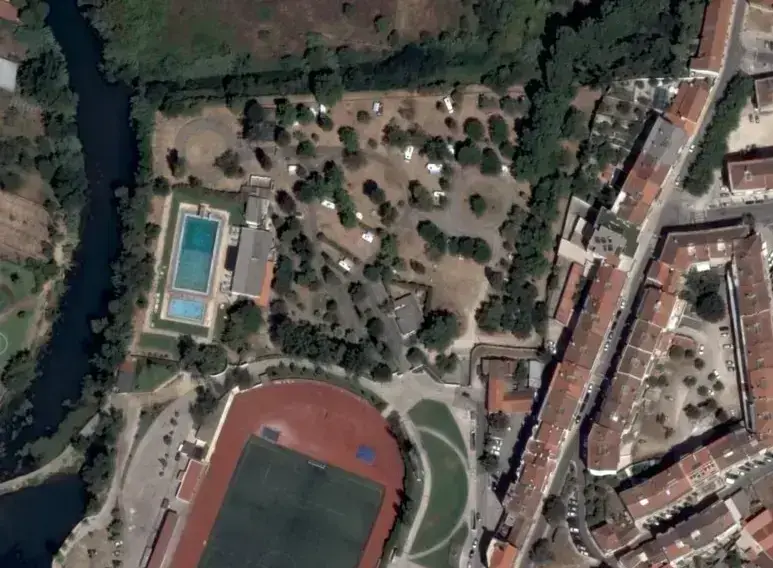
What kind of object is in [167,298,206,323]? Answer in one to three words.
swimming pool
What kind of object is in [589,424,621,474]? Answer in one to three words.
house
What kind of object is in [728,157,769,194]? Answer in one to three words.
building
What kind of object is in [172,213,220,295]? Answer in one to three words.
swimming pool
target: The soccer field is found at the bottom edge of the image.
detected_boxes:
[202,437,384,568]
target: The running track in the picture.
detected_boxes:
[171,380,405,568]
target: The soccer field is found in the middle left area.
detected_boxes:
[0,316,30,373]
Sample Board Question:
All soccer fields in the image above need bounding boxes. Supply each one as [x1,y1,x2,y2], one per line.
[0,316,30,373]
[202,437,384,568]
